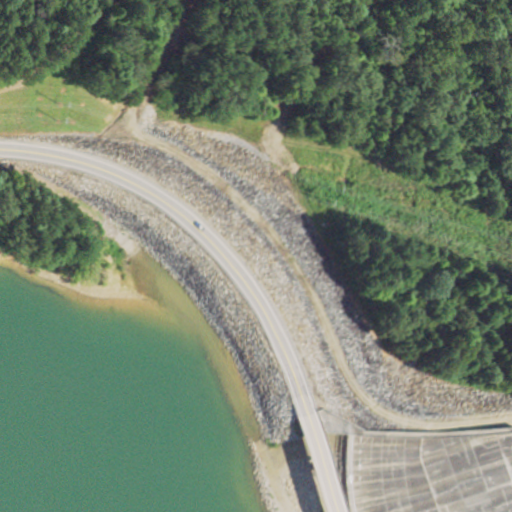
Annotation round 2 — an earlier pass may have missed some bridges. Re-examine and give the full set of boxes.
[306,427,350,512]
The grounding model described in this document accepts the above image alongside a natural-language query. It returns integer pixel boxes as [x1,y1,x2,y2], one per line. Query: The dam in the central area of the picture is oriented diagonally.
[0,122,512,444]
